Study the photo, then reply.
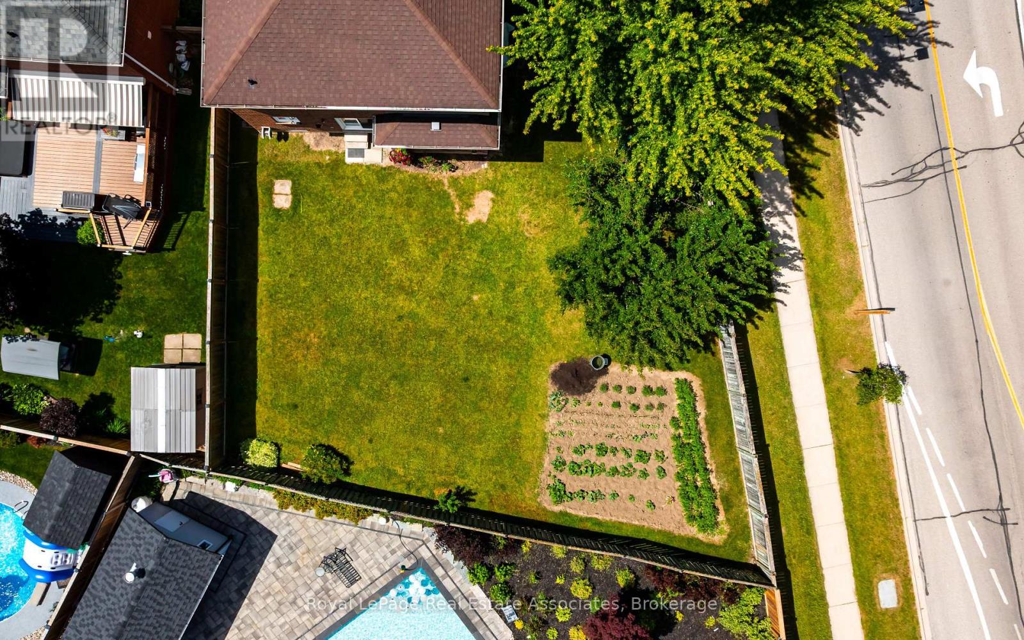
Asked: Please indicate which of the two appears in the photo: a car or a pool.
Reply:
pool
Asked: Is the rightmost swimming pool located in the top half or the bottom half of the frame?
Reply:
bottom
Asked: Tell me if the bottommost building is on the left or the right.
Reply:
left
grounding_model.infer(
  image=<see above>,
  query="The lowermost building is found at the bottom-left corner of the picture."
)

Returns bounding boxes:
[60,500,243,640]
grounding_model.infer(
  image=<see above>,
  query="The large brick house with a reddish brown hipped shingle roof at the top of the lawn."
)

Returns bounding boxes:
[200,0,506,157]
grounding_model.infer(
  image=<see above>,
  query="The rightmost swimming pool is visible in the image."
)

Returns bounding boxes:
[312,557,484,640]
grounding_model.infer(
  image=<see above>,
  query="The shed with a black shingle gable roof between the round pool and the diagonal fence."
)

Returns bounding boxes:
[23,447,126,550]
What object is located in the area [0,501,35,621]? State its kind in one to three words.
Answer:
swimming pool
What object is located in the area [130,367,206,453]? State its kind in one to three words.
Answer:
shed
